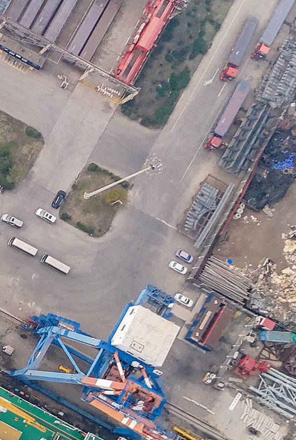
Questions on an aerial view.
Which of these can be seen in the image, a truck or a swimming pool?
truck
